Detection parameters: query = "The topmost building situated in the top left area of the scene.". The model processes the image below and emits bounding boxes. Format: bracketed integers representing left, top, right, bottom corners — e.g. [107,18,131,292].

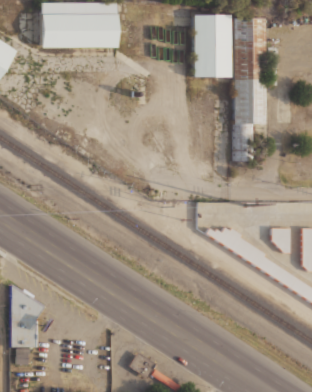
[40,2,122,48]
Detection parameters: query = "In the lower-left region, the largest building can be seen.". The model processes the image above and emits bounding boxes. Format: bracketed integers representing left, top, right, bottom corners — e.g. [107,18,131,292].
[9,285,46,348]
